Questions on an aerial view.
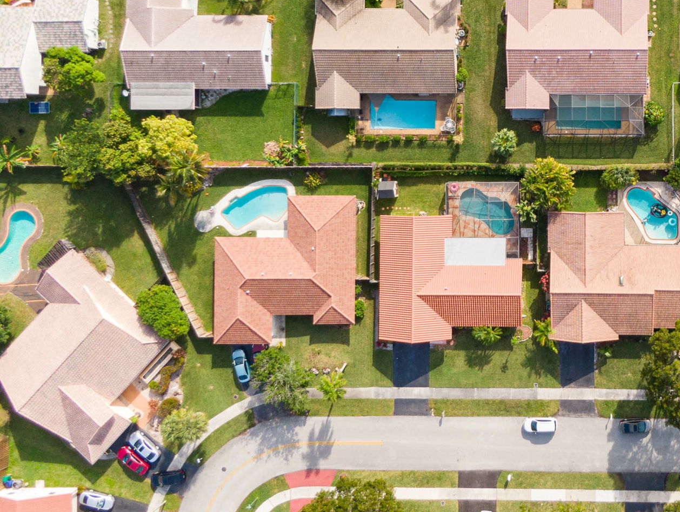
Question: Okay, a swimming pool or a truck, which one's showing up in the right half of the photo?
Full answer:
Visible in the right half of the photo is a swimming pool.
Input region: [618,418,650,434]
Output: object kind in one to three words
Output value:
car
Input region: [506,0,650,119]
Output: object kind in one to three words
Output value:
house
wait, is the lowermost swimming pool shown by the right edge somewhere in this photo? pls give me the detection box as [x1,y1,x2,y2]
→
[622,183,680,244]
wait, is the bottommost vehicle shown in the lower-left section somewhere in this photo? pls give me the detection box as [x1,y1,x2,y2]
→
[81,491,116,511]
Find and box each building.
[0,484,84,512]
[0,249,175,465]
[373,182,397,200]
[311,0,461,116]
[506,0,650,119]
[378,214,523,344]
[0,0,101,105]
[119,0,274,110]
[213,195,358,344]
[548,212,680,344]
